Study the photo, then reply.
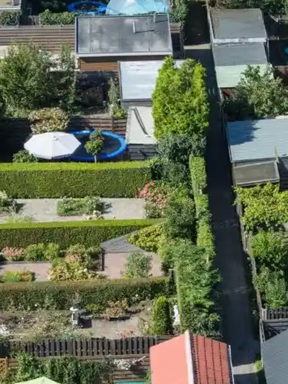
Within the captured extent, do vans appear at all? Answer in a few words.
No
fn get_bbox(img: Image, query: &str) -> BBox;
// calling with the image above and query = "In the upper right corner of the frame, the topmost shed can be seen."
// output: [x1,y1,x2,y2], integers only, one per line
[209,8,265,70]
